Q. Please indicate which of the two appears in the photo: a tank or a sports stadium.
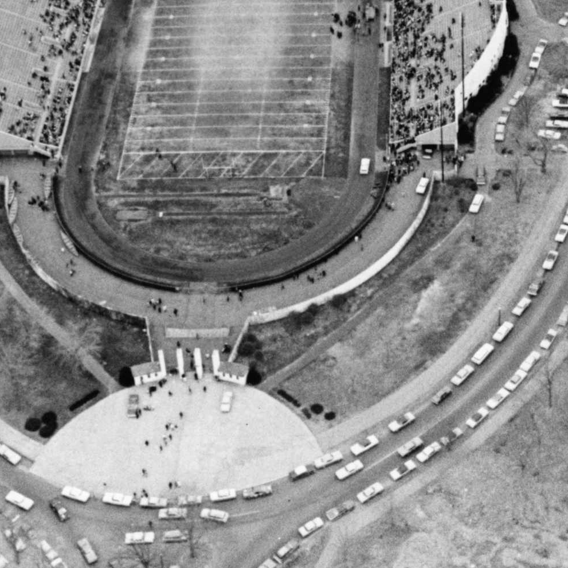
sports stadium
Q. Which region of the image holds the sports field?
top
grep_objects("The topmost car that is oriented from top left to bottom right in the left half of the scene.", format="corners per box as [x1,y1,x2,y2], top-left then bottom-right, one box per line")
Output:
[0,446,21,465]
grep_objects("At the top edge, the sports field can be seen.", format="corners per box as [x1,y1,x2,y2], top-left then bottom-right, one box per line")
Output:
[117,0,339,180]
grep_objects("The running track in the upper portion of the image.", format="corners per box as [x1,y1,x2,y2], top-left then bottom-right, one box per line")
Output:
[64,0,385,286]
